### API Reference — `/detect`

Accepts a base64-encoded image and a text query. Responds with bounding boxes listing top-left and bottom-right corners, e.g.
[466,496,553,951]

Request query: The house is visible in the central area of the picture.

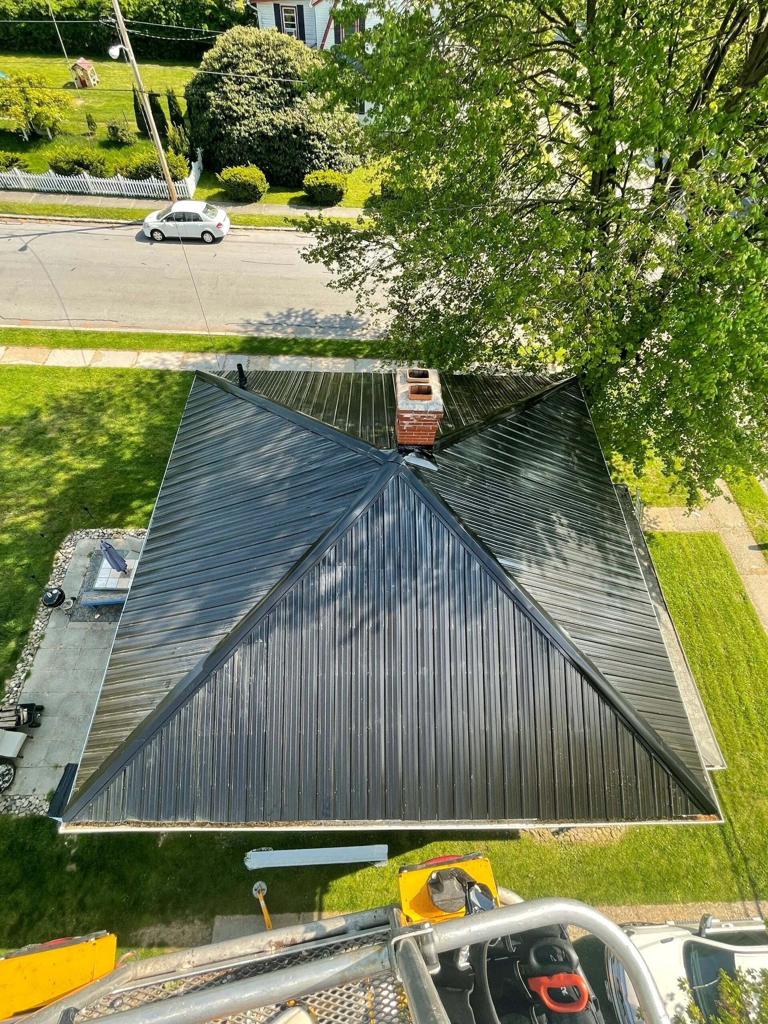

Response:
[48,362,728,835]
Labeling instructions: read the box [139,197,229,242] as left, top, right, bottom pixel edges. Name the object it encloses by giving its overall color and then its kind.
white car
